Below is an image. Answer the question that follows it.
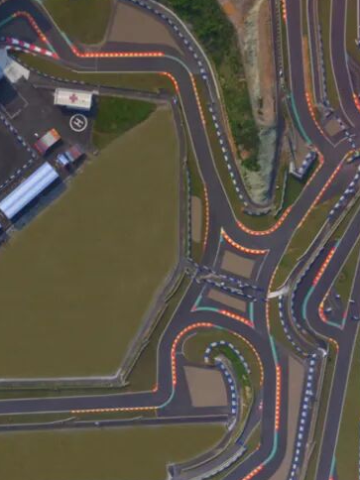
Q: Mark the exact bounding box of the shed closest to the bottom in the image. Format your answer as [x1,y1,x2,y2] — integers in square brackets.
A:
[0,163,60,219]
